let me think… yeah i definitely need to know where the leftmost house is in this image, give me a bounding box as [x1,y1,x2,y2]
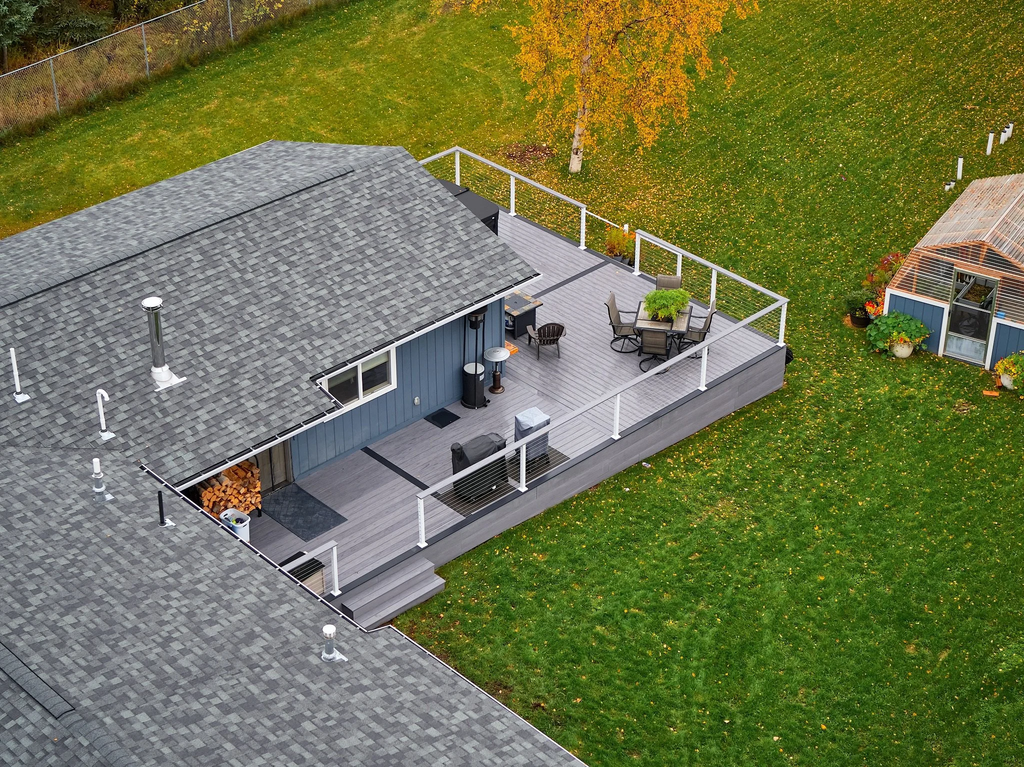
[0,145,588,767]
